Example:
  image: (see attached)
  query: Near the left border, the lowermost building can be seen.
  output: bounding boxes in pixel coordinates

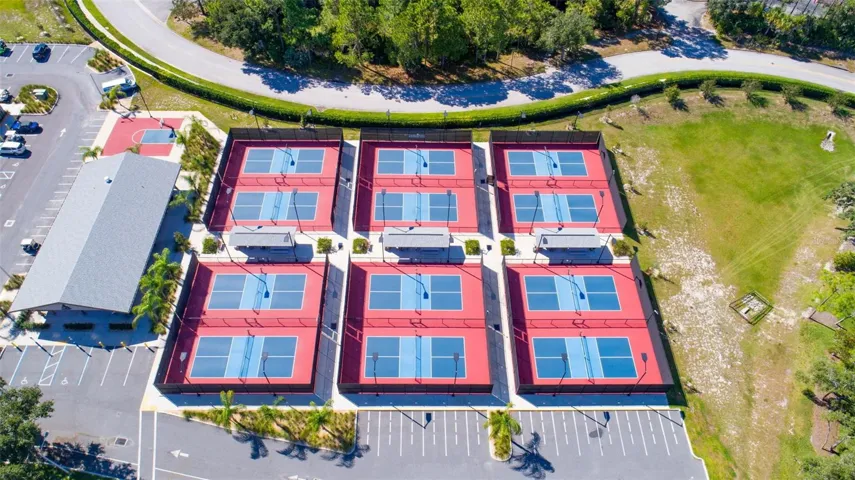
[8,151,183,323]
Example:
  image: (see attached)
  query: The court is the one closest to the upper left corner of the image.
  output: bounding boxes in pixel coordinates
[102,118,185,157]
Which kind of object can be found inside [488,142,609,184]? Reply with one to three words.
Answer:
sports court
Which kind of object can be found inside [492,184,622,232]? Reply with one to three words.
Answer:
sports court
